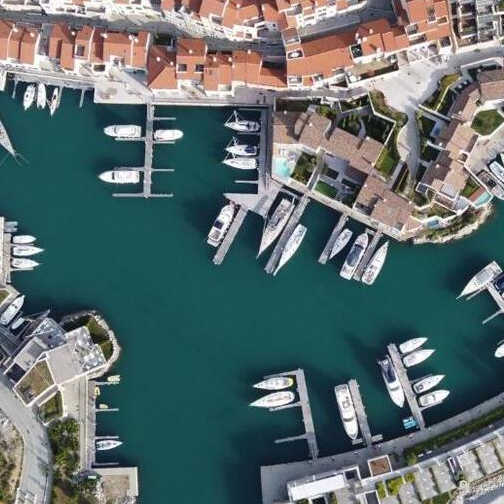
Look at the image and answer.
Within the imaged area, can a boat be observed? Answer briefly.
Yes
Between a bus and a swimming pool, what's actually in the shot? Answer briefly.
swimming pool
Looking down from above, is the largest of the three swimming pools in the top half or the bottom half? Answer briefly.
top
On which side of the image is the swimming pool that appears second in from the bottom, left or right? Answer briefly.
right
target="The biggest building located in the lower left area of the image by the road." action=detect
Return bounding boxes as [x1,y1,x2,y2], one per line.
[3,319,108,422]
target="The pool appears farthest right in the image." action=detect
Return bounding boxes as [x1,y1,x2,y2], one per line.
[470,187,494,208]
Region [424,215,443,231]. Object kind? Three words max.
swimming pool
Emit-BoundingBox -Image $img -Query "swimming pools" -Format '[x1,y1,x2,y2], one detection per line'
[272,143,303,180]
[470,187,494,208]
[424,215,443,231]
